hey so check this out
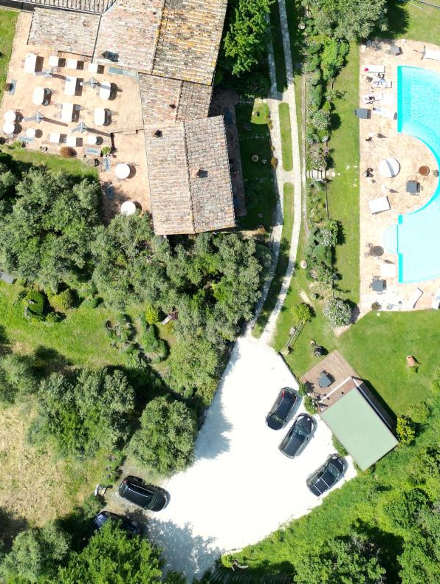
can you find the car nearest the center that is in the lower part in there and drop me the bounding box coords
[264,383,302,432]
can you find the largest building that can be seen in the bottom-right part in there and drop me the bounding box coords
[320,380,400,469]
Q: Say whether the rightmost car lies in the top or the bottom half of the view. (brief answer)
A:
bottom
